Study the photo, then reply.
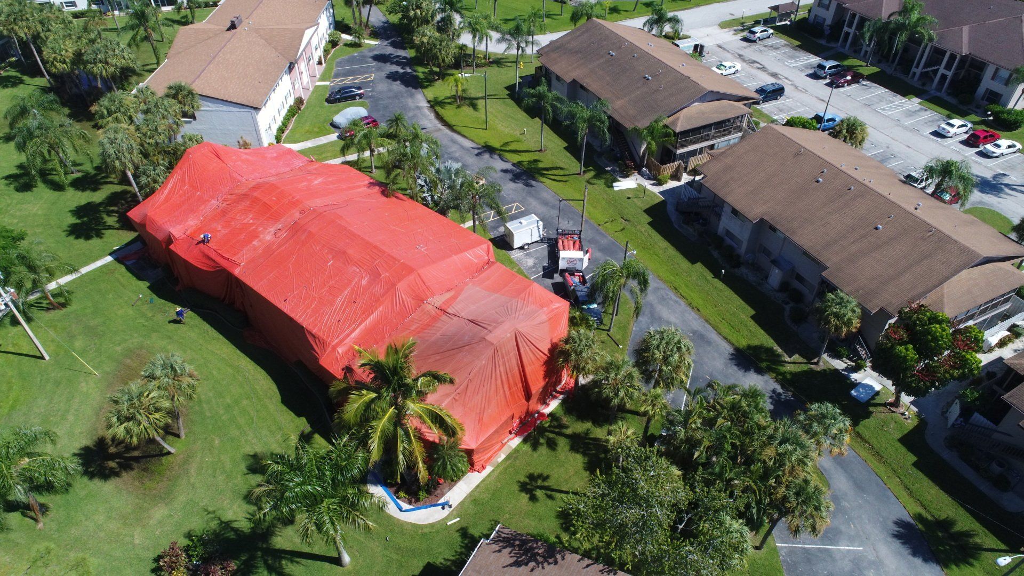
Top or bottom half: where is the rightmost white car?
top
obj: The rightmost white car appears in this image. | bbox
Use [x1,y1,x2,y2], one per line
[980,140,1022,161]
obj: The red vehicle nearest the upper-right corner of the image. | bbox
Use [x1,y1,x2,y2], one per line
[964,130,1000,149]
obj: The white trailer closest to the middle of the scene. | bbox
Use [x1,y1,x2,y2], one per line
[505,210,554,246]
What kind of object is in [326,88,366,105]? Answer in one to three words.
car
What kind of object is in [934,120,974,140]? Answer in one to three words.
car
